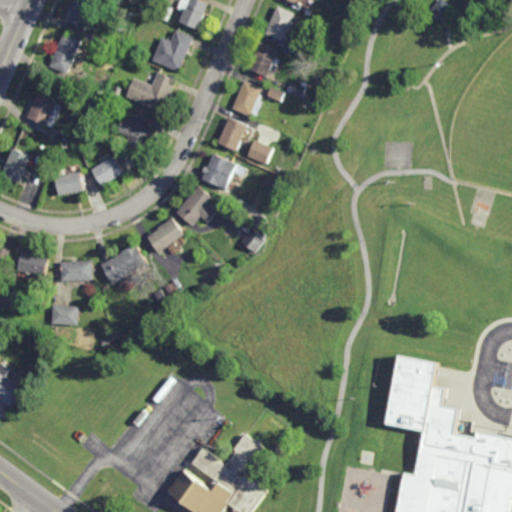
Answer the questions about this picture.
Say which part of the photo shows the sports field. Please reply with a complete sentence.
The sports field appears toward the top right of the photo.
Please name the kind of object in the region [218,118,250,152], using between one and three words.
house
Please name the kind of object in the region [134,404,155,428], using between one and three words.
truck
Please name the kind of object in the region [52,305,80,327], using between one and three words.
building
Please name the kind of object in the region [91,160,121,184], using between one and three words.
house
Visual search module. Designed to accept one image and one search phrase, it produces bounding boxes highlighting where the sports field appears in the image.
[448,33,512,192]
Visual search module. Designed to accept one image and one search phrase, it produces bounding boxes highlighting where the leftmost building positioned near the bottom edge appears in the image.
[168,433,270,512]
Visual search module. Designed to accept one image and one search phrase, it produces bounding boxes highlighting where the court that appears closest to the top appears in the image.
[384,142,412,169]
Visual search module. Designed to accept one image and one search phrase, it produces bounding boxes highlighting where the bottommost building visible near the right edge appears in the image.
[384,354,512,512]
